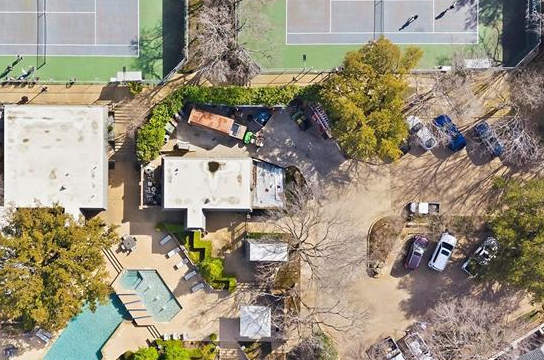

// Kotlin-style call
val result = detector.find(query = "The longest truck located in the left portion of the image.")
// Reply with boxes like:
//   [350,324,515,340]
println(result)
[187,107,245,141]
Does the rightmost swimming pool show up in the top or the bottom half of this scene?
bottom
